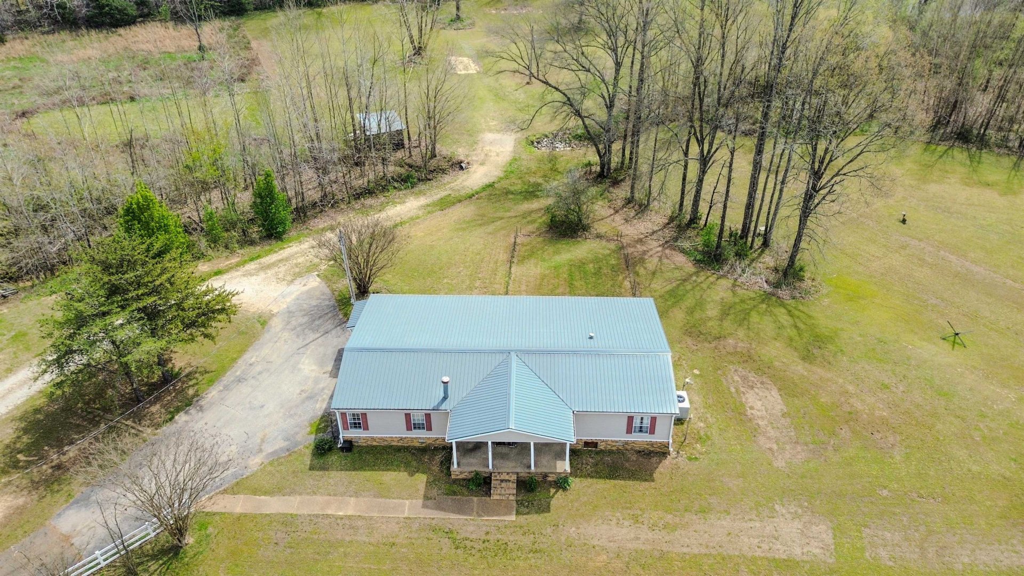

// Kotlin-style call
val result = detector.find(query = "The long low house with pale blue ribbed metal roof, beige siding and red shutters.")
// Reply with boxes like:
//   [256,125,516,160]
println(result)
[330,294,680,481]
